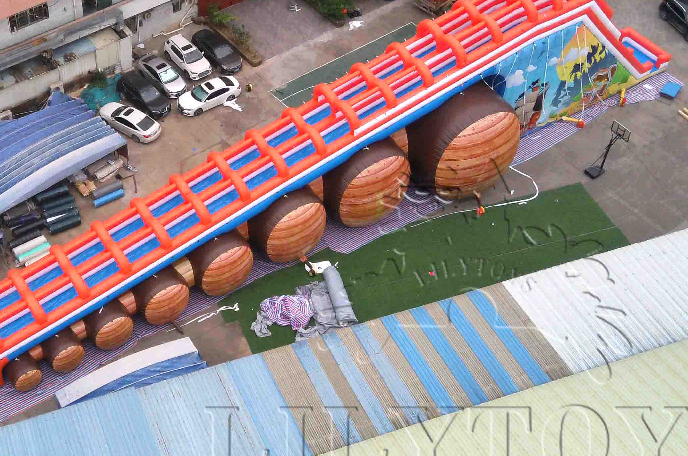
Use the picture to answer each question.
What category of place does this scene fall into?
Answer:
industrial area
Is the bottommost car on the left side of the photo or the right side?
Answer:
left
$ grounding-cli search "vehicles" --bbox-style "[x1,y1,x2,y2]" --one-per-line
[111,66,171,121]
[96,105,166,150]
[347,3,366,17]
[188,27,243,77]
[157,31,212,84]
[131,51,186,100]
[656,0,688,38]
[175,75,245,117]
